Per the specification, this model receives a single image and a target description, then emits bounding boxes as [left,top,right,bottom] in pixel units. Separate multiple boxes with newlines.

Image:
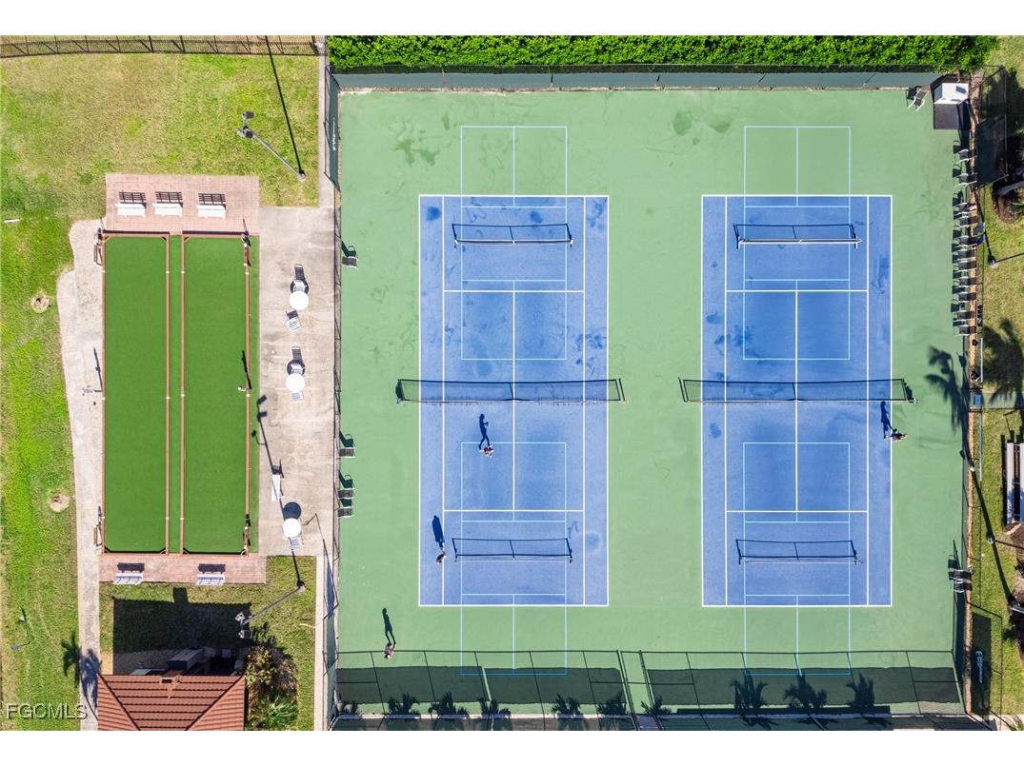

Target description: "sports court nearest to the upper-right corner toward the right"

[745,126,851,360]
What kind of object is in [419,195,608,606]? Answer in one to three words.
tennis court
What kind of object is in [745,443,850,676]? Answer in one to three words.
sports court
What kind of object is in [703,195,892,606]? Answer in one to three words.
tennis court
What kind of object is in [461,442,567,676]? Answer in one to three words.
sports court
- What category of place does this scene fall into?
sports ground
